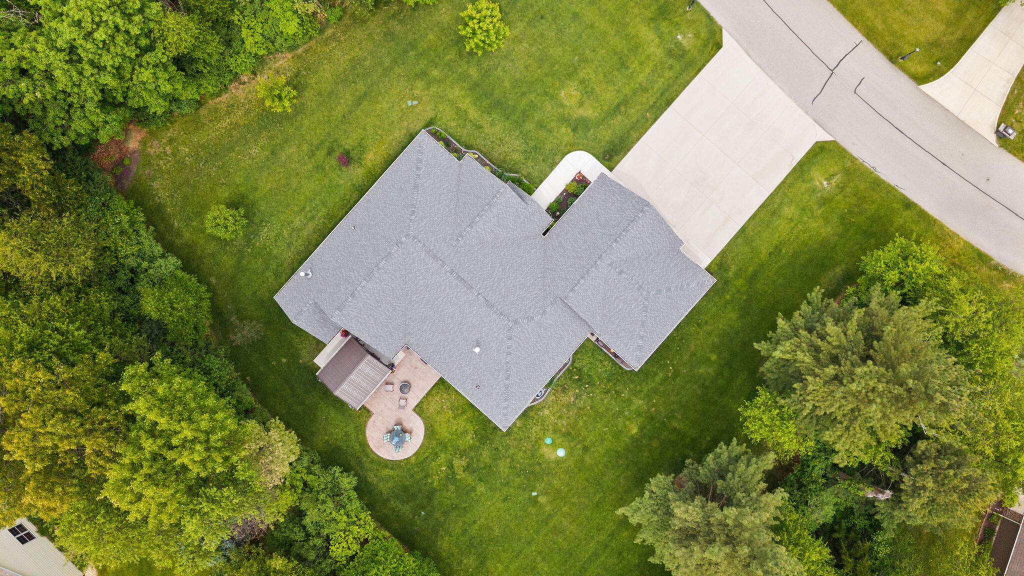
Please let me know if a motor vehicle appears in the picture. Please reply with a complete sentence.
No, there's no motor vehicle here.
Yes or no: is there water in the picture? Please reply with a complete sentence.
No, water can't be seen anywhere here.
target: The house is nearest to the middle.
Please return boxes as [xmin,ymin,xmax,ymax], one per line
[273,130,718,432]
